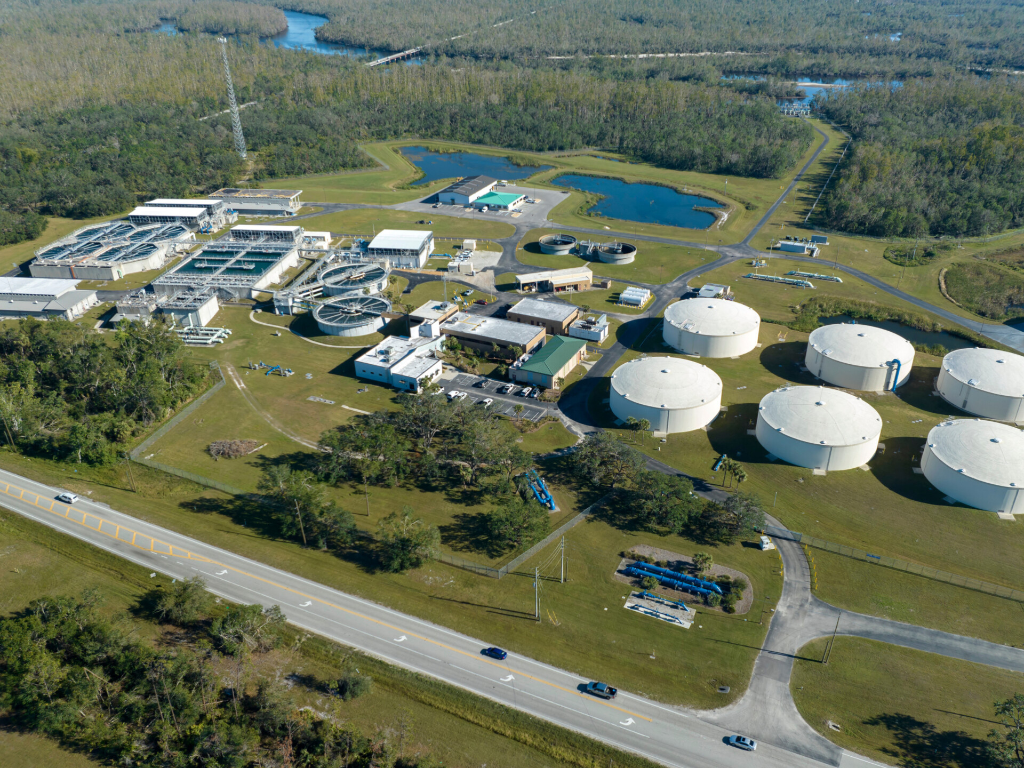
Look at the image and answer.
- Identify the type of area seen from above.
industrial area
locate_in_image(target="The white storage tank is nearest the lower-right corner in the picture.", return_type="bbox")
[906,419,1024,522]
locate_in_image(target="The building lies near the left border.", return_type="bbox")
[0,275,104,324]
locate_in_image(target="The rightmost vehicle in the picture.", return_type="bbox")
[728,733,757,752]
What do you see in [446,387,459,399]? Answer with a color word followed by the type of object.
white vehicle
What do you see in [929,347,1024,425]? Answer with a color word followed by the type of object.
white storage tank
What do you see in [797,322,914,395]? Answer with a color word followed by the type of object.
white storage tank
